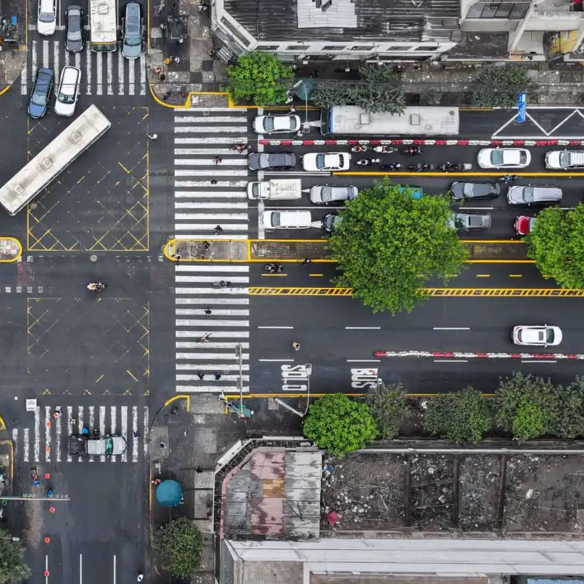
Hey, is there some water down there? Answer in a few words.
No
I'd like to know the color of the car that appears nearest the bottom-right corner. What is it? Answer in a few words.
white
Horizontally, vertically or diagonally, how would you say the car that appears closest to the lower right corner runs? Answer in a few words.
horizontally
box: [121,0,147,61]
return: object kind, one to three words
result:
car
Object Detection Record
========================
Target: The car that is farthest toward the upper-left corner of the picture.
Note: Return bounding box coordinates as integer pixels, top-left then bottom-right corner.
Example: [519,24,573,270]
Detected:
[36,0,59,36]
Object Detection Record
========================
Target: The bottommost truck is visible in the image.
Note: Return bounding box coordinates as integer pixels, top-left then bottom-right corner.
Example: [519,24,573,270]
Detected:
[69,434,126,457]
